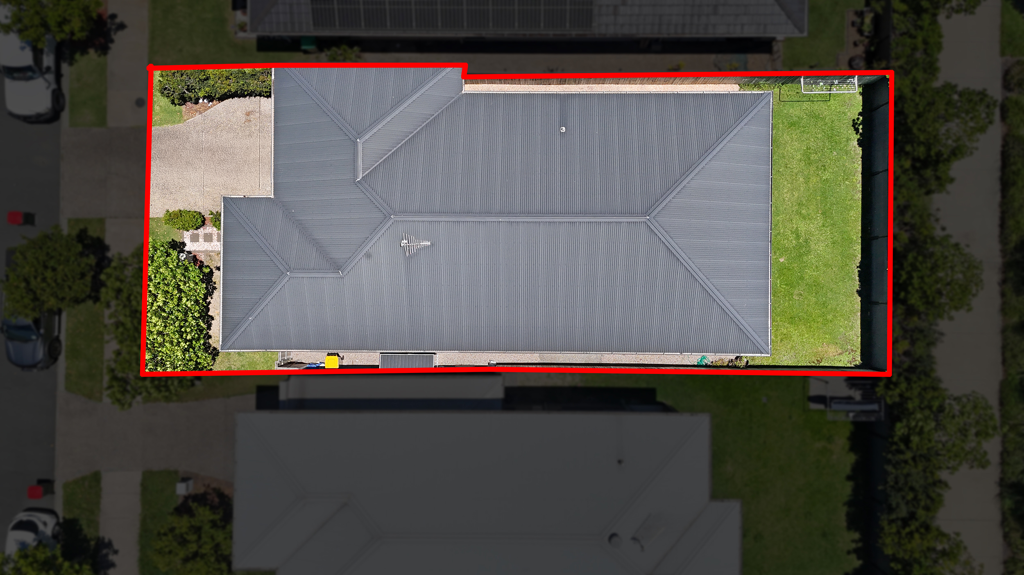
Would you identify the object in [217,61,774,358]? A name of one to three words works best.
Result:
house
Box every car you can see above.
[4,18,65,124]
[0,265,60,372]
[10,509,64,575]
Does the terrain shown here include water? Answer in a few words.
No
